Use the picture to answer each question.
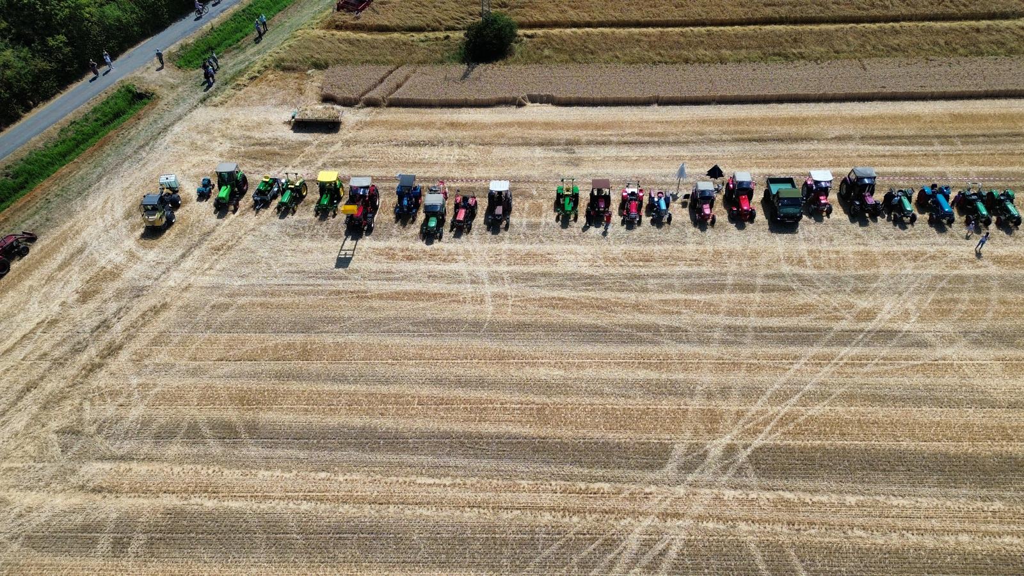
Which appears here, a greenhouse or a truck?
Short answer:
truck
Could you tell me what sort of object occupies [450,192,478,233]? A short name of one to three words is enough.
work vehicle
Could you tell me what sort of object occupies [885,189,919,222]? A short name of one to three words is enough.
work vehicle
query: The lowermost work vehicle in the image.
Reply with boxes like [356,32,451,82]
[0,231,44,277]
